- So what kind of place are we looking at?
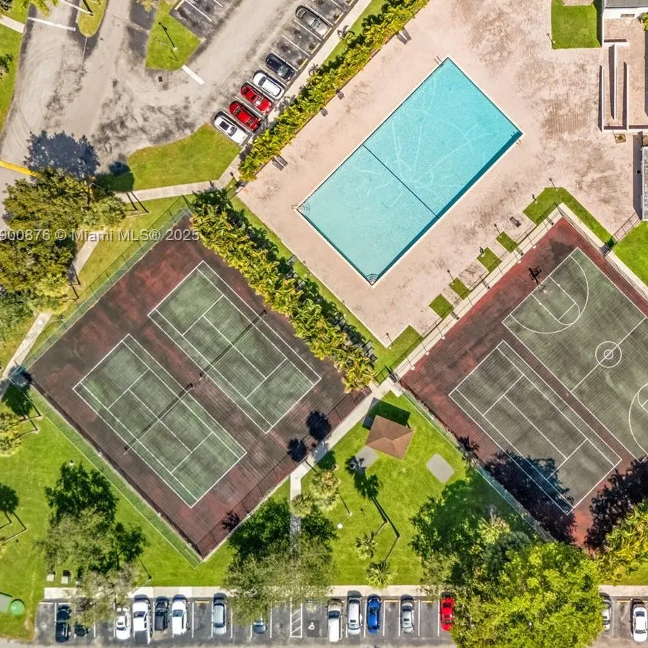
sports ground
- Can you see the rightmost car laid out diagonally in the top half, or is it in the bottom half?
top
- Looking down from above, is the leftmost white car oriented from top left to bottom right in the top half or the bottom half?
top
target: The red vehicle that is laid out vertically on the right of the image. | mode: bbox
[439,595,455,628]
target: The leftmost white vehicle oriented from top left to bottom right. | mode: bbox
[214,113,248,142]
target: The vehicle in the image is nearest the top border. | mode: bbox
[296,5,329,34]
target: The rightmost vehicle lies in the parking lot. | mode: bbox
[632,599,648,634]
